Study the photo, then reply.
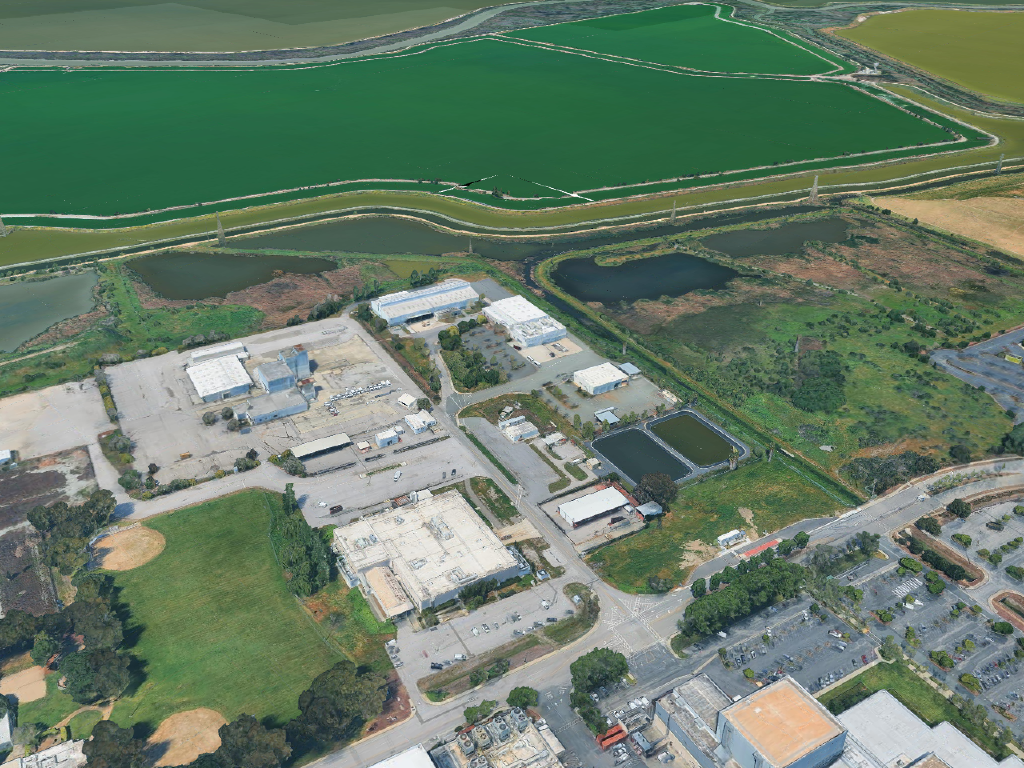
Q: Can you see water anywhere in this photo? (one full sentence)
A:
Yes, water shows up in the scene.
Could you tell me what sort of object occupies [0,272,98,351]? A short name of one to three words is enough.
pond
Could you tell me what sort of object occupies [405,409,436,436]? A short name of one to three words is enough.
house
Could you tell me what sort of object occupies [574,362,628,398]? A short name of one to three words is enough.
building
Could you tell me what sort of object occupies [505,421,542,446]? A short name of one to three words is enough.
shed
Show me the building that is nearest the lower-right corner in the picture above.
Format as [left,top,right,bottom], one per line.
[835,689,1024,768]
